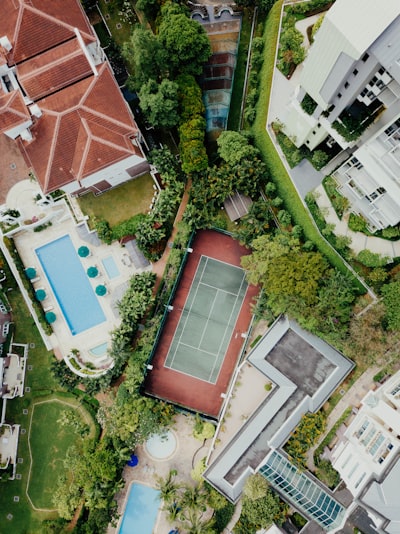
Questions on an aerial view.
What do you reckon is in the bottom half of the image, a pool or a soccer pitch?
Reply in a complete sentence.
It is a pool that can be seen in the bottom half of the image.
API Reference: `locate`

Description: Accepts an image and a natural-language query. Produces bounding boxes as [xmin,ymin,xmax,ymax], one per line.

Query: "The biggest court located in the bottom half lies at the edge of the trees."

[146,229,260,419]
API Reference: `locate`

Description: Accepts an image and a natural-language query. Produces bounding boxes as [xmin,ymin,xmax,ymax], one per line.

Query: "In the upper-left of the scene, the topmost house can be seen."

[0,0,150,201]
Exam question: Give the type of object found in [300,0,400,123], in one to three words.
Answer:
building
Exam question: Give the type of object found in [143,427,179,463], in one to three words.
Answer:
swimming pool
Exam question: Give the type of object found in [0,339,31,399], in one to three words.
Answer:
house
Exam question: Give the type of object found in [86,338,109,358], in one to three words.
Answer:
swimming pool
